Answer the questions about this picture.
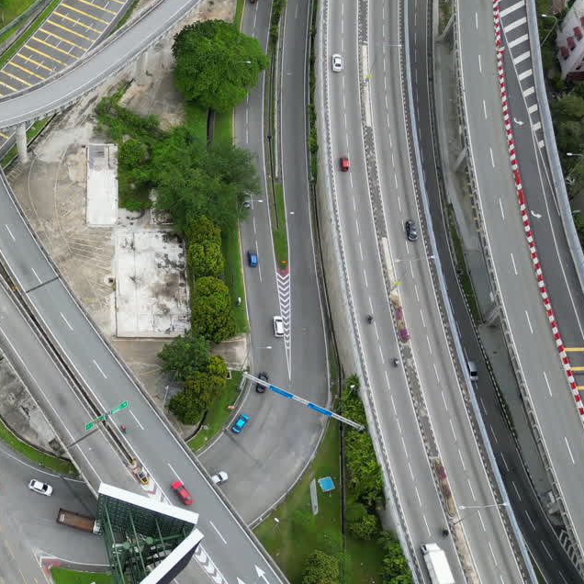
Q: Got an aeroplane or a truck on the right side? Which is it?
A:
truck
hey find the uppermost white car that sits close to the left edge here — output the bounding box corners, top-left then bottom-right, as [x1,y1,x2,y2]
[28,477,55,496]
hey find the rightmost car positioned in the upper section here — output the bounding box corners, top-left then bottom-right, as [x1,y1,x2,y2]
[403,219,418,241]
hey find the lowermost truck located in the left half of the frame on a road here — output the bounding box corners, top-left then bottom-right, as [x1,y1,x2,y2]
[55,506,94,531]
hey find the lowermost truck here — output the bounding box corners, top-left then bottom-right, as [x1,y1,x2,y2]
[419,538,461,584]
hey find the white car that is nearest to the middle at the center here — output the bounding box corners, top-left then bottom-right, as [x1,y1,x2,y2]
[272,316,285,338]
